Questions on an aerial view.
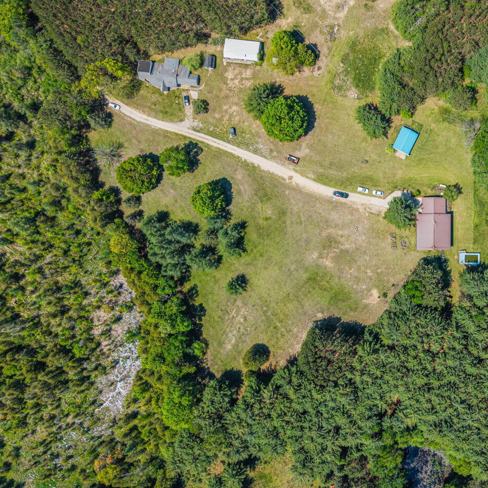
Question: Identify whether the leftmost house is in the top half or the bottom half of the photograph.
top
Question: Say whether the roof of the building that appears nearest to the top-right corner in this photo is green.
No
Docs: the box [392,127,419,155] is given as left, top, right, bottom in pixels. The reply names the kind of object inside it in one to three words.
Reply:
building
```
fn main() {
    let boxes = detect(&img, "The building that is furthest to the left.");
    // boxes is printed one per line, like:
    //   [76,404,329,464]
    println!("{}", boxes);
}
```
[138,55,204,97]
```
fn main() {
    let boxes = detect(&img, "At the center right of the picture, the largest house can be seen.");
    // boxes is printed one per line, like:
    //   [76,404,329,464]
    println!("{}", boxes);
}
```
[416,196,452,250]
